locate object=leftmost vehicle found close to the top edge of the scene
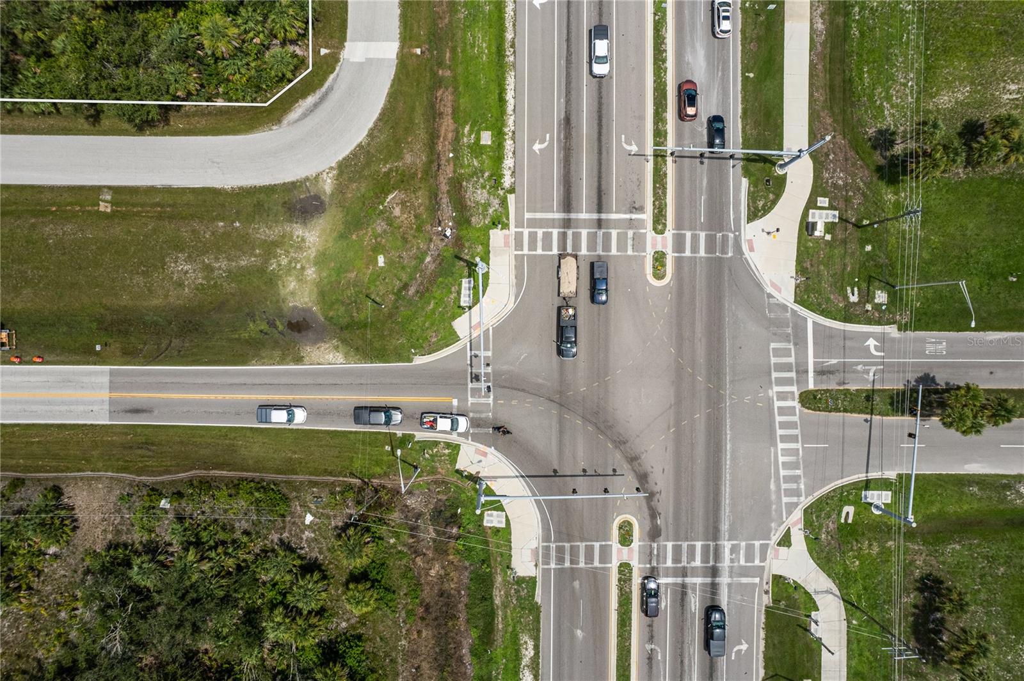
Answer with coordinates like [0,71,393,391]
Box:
[589,23,612,79]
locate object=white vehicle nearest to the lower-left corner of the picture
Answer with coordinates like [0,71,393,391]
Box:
[255,404,308,427]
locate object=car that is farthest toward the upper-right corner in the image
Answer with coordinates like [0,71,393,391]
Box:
[712,0,734,39]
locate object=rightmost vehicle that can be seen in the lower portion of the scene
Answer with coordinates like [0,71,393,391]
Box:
[705,604,729,658]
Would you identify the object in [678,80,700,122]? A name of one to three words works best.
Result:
car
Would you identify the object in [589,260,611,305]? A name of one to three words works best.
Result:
truck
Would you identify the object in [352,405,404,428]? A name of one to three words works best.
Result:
truck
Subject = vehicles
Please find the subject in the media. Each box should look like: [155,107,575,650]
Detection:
[705,604,729,658]
[419,412,470,435]
[712,0,734,39]
[255,404,308,427]
[640,574,662,618]
[352,405,404,428]
[589,260,611,305]
[0,329,19,350]
[589,23,612,79]
[707,115,728,155]
[556,306,579,359]
[678,80,700,122]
